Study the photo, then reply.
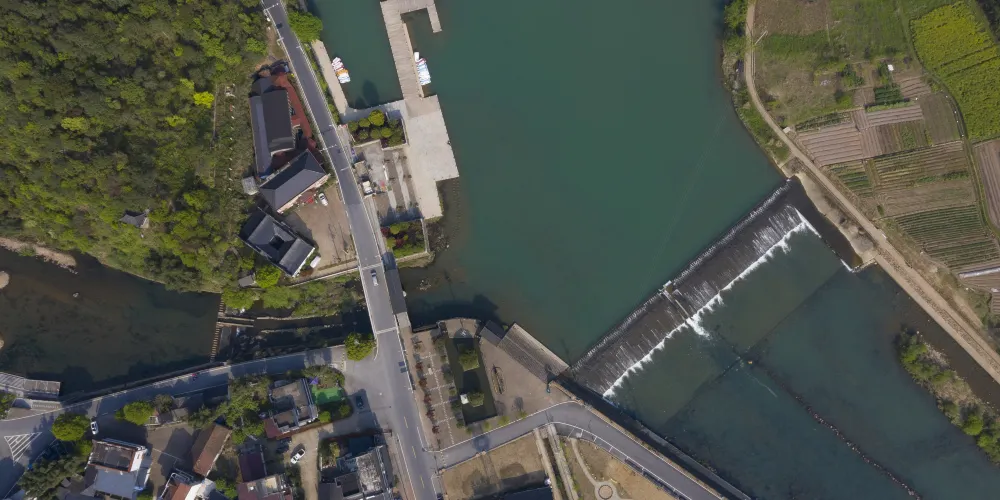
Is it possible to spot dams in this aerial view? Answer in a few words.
Yes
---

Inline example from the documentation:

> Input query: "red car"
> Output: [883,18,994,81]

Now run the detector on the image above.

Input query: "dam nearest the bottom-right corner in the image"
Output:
[571,178,857,396]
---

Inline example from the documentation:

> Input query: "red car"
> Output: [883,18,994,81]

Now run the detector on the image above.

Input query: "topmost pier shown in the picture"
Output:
[380,0,441,101]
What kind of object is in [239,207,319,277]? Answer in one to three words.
house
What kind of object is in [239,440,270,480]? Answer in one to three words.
house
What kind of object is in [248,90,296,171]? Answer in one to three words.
building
